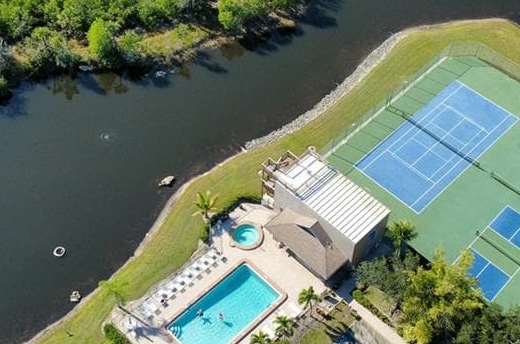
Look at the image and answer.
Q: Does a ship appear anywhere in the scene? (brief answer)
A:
No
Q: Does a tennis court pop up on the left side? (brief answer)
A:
No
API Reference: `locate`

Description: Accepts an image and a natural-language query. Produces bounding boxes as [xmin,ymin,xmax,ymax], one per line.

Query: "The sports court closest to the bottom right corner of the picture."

[451,205,520,300]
